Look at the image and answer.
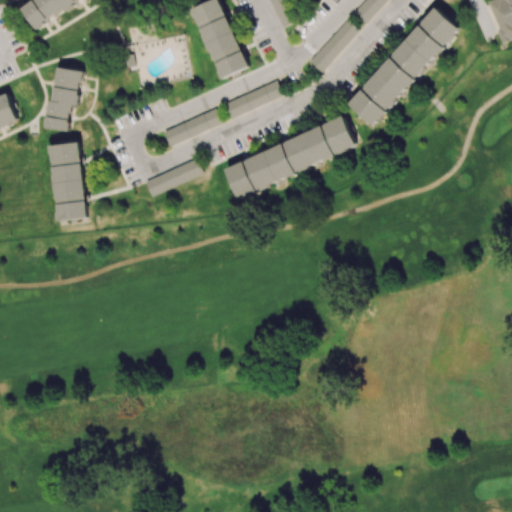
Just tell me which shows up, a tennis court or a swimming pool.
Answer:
swimming pool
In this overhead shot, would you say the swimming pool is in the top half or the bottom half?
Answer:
top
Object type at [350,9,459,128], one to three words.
building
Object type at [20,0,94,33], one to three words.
building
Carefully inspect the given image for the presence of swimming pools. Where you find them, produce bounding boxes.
[130,28,193,86]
